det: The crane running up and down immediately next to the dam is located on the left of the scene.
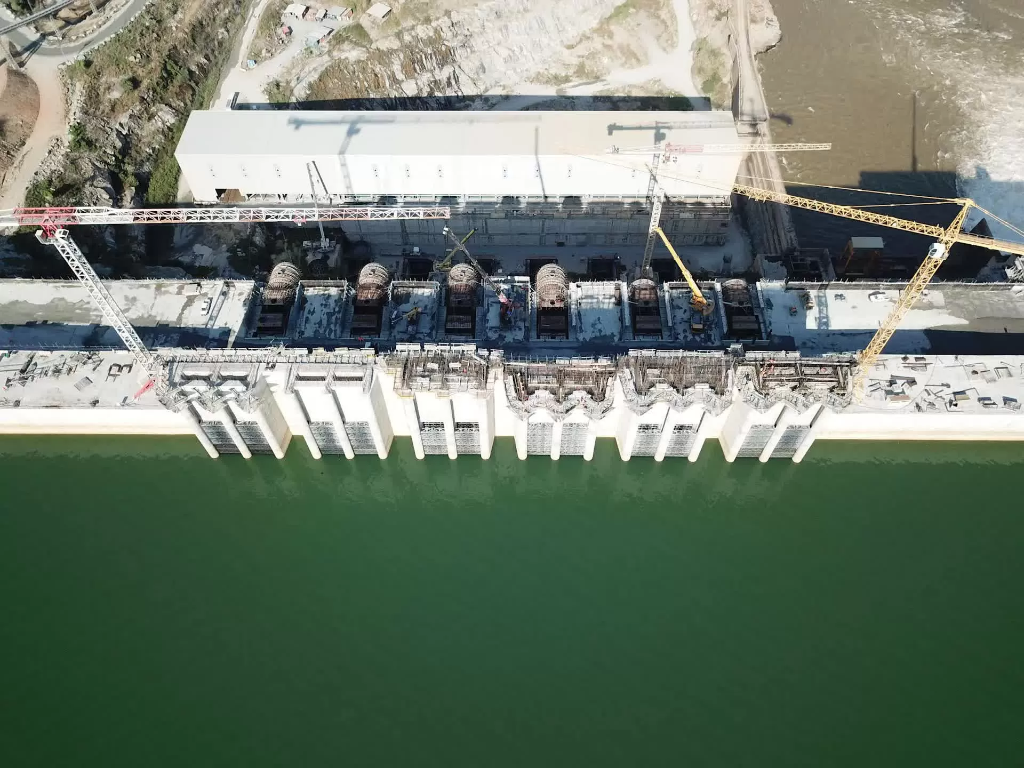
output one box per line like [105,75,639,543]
[307,160,333,250]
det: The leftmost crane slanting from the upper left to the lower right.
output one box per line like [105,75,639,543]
[442,226,529,324]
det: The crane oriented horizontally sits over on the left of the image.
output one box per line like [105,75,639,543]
[0,207,452,383]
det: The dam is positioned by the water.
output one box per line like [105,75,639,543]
[0,272,1024,441]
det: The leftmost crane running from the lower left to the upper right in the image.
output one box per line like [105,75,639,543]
[435,229,481,270]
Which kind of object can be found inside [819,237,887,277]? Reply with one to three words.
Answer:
container crane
